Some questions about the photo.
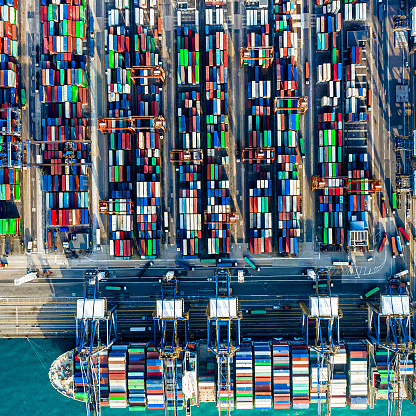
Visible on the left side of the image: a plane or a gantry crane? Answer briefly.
gantry crane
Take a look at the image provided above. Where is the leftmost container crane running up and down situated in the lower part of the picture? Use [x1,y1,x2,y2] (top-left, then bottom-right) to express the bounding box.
[74,274,124,416]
